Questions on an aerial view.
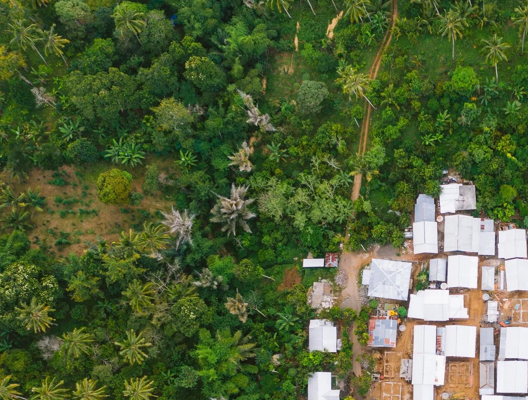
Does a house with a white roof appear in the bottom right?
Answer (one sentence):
Yes, you'll find a house with a white roof in the bottom right.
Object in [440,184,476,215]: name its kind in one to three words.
house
